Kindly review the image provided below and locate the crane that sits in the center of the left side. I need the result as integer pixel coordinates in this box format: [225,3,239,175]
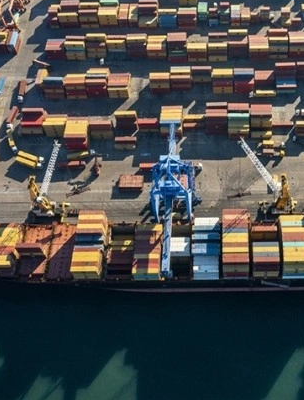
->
[29,140,64,216]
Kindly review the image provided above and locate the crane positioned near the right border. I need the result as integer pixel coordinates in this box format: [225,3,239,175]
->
[228,138,303,215]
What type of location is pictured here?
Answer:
port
